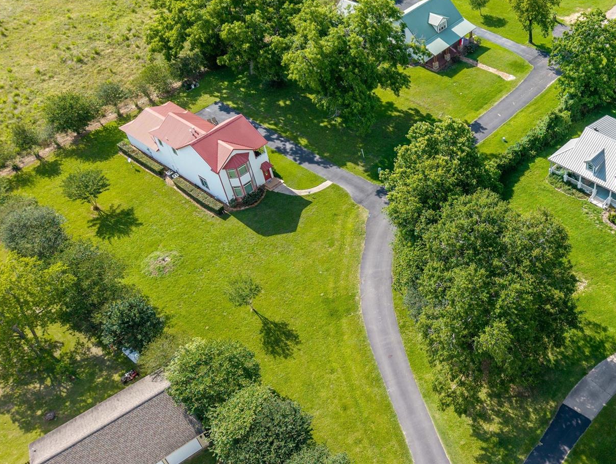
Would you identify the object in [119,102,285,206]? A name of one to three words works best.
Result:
house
